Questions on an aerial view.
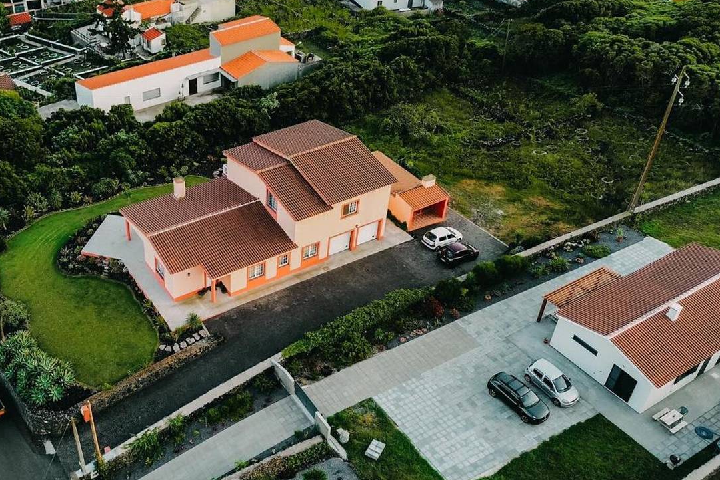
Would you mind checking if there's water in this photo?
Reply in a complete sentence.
No, the picture contains no water.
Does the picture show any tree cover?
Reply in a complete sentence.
Yes, the picture does contain tree cover.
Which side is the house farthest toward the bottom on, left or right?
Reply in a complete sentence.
The house farthest toward the bottom is on the right side of the image.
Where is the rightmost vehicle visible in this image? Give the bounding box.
[521,359,587,406]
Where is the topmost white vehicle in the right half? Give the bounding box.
[420,228,464,254]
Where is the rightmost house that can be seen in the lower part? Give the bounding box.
[548,242,720,409]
